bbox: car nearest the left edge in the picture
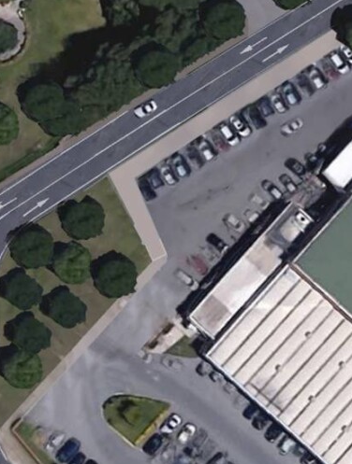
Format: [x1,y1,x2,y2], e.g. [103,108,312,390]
[44,429,65,452]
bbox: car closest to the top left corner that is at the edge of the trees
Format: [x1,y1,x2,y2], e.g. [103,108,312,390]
[133,98,158,118]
